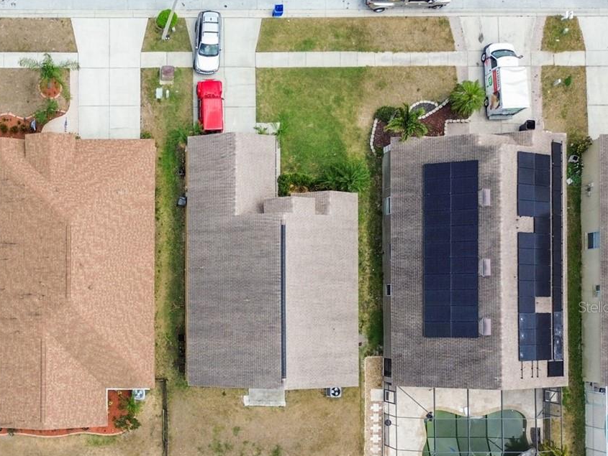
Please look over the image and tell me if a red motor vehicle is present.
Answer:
Yes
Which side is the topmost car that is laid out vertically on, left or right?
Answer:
left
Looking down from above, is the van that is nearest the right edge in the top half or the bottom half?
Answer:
top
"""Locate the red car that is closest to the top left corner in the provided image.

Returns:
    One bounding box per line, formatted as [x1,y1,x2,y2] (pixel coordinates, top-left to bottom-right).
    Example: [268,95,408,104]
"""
[197,77,225,134]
